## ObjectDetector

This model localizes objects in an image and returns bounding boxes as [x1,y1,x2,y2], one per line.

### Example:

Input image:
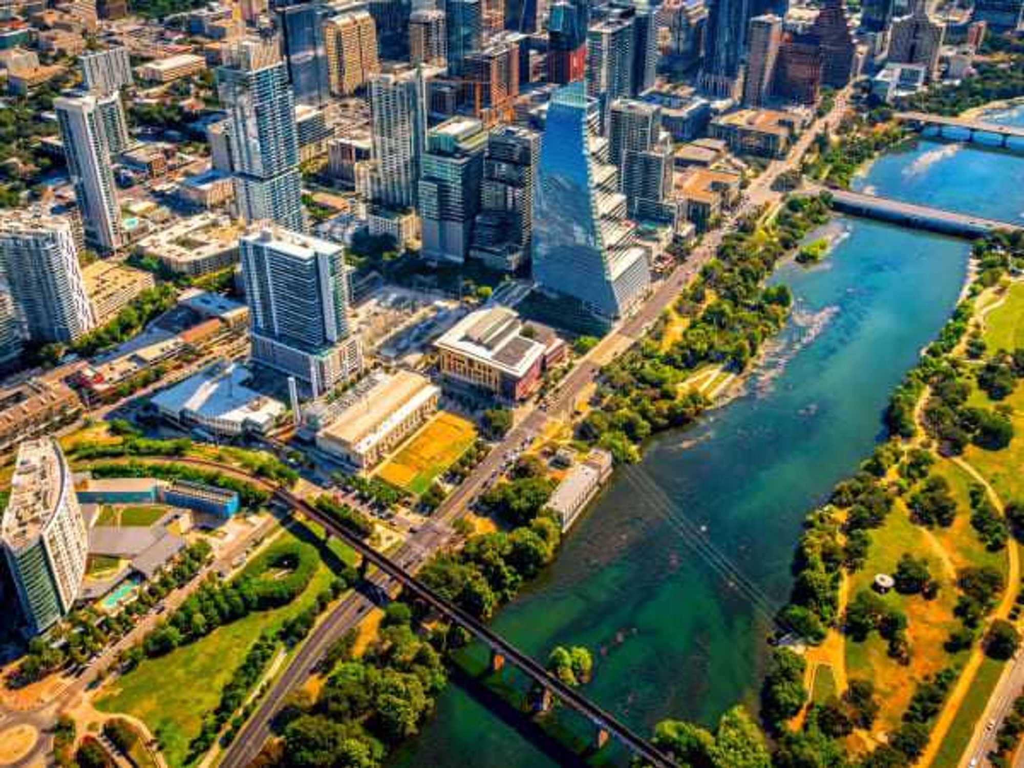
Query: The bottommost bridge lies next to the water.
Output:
[276,491,686,768]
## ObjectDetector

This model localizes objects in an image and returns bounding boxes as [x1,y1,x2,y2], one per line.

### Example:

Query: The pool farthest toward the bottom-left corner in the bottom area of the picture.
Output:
[94,576,145,613]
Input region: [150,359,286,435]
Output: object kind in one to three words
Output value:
building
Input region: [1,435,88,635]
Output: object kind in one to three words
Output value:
building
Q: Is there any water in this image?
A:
Yes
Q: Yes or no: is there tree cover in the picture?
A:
Yes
